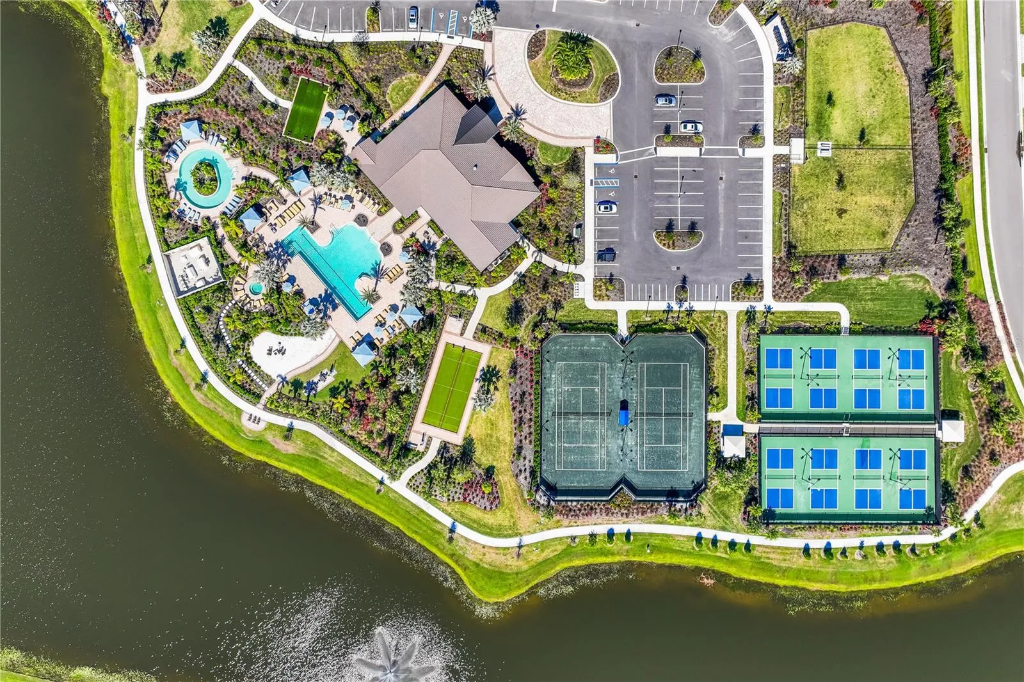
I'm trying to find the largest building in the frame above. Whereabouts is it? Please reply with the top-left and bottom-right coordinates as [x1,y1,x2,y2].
[350,86,540,272]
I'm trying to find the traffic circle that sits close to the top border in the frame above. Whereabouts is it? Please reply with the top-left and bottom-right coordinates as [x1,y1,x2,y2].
[525,28,621,106]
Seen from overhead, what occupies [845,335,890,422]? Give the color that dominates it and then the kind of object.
green sports court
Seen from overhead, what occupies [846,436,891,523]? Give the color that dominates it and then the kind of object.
green sports court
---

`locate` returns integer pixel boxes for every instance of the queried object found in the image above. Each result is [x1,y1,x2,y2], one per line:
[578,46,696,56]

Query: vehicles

[597,203,617,212]
[655,95,676,106]
[408,7,418,29]
[596,252,617,261]
[680,122,703,132]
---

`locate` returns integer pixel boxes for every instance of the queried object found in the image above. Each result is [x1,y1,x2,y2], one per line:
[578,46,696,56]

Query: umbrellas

[373,325,384,336]
[321,115,332,127]
[343,120,354,131]
[335,109,346,120]
[386,310,397,322]
[282,281,293,293]
[398,251,410,262]
[303,302,315,314]
[341,199,352,211]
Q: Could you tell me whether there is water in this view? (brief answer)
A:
Yes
